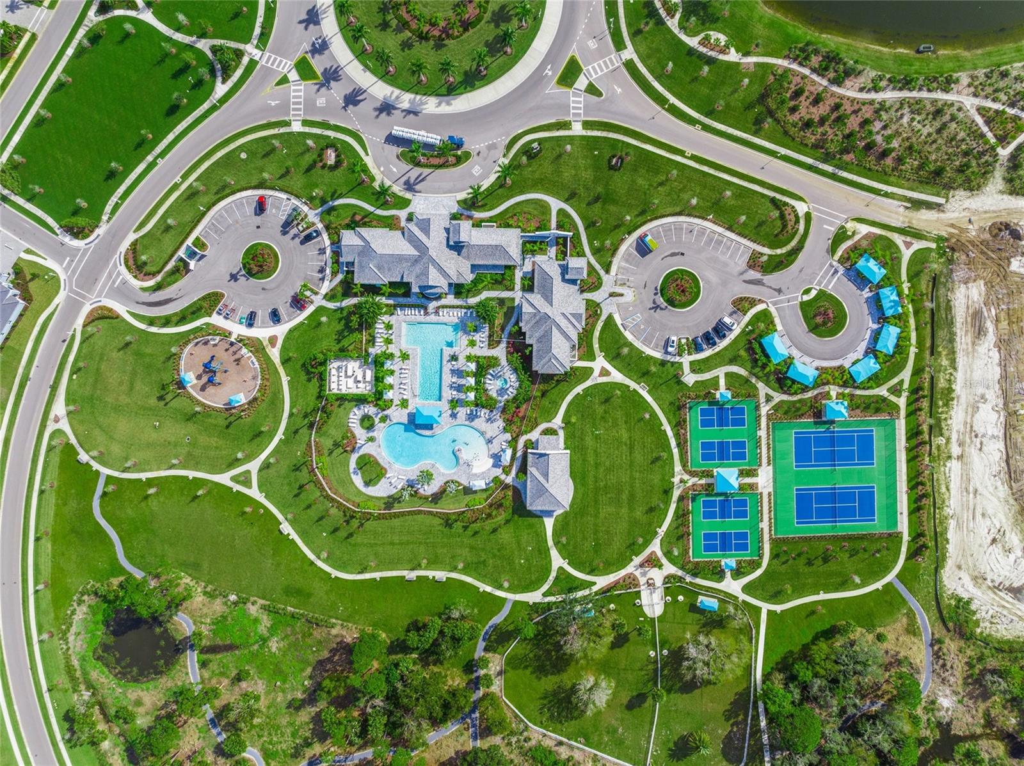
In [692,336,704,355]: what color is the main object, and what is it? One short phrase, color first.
blue vehicle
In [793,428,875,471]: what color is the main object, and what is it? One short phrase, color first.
blue tennis court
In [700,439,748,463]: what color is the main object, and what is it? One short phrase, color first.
blue sports court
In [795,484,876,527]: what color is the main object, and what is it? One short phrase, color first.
blue tennis court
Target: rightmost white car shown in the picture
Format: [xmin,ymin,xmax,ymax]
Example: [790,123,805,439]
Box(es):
[721,316,737,330]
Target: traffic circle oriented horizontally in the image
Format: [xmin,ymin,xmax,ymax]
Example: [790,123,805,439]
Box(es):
[319,0,562,111]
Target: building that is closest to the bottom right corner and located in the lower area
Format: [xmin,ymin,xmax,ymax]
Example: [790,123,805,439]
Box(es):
[527,435,570,510]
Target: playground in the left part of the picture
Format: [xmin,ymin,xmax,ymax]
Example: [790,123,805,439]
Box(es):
[179,335,260,408]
